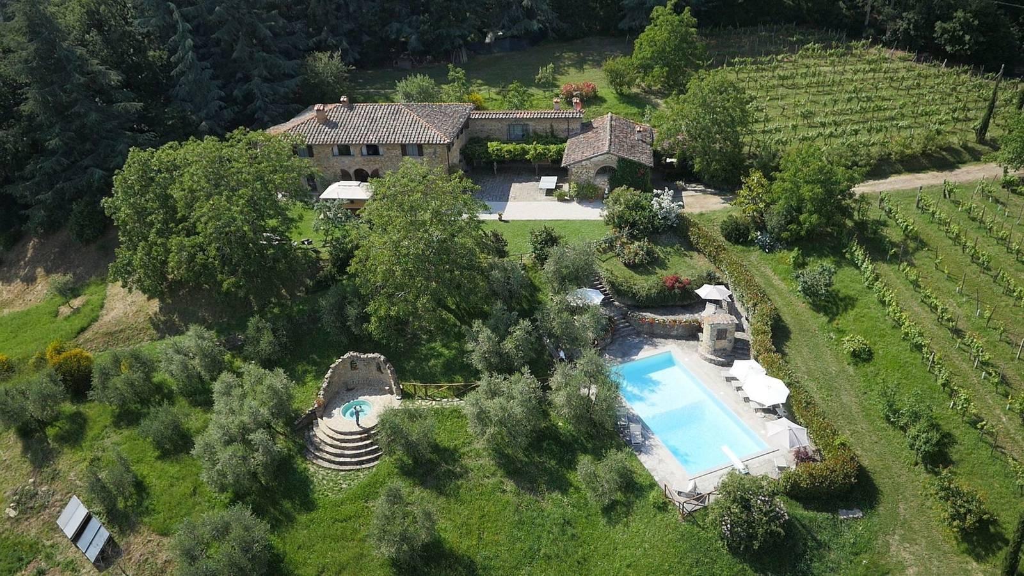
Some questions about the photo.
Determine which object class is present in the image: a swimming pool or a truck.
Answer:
swimming pool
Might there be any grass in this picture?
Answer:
Yes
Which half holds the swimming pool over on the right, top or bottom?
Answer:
bottom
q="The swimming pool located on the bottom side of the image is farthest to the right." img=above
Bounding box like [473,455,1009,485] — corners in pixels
[592,347,779,484]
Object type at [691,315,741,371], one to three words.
shed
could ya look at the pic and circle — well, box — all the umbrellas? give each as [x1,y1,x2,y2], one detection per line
[741,375,790,417]
[569,287,605,307]
[690,467,698,496]
[770,416,816,455]
[695,285,730,312]
[728,359,766,382]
